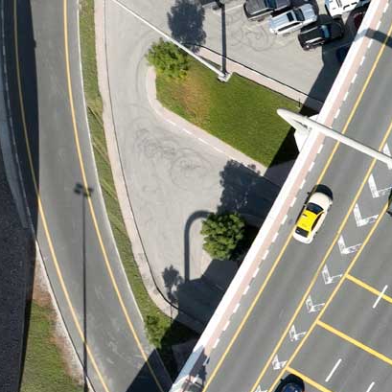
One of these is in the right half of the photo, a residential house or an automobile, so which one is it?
automobile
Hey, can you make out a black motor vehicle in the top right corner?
Yes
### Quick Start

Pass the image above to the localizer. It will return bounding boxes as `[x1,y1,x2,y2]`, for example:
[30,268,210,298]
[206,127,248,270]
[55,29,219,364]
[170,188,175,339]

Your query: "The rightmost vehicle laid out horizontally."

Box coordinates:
[324,0,372,21]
